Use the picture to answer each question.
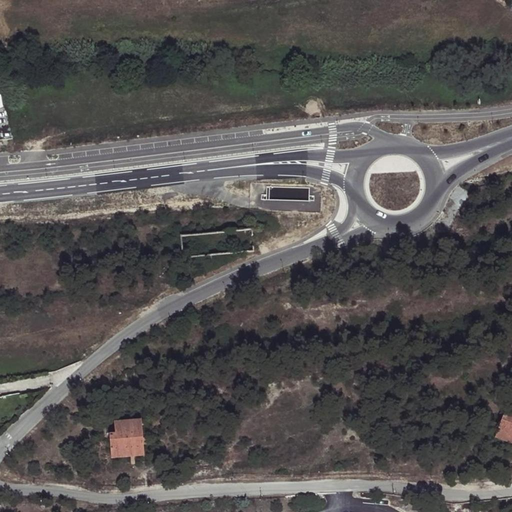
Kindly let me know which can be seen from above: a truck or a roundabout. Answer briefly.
roundabout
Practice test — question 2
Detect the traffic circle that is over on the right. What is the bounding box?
[364,154,426,216]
